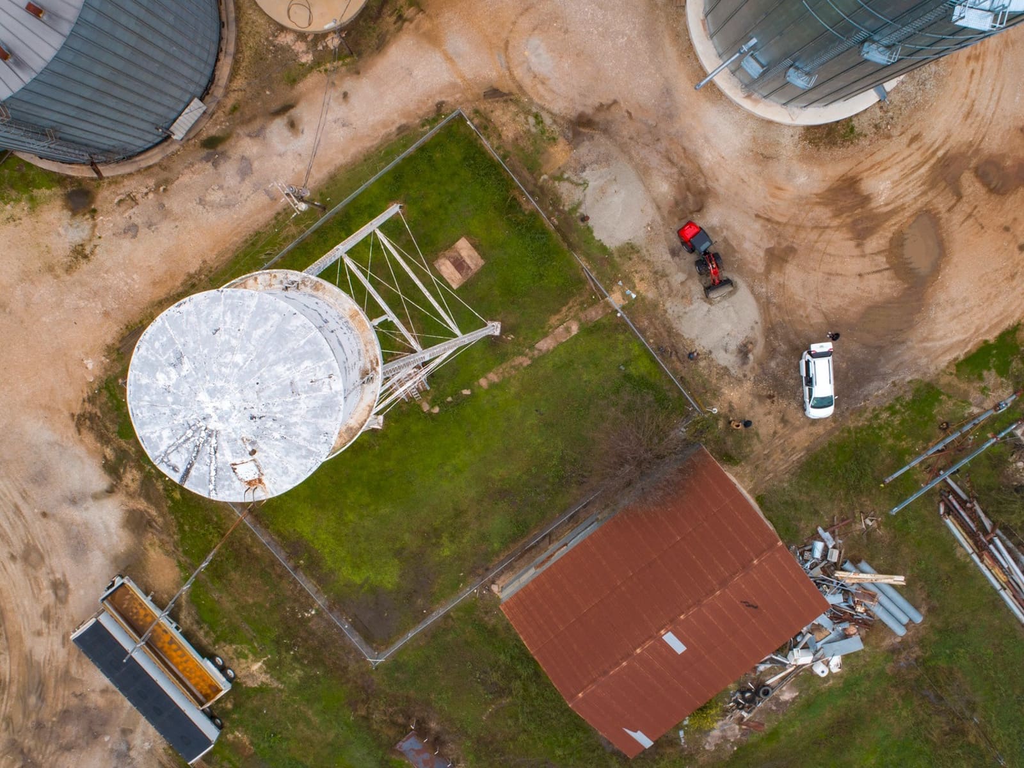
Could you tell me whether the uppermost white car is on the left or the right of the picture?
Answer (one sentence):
It is on the right.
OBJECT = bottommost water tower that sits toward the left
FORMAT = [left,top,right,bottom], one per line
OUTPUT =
[130,198,503,512]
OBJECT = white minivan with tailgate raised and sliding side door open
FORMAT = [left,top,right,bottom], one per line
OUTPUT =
[803,344,840,420]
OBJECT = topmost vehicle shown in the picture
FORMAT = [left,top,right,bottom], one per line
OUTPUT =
[675,220,734,297]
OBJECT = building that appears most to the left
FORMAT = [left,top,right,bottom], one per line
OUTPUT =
[499,437,831,755]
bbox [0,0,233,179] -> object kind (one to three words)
silo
